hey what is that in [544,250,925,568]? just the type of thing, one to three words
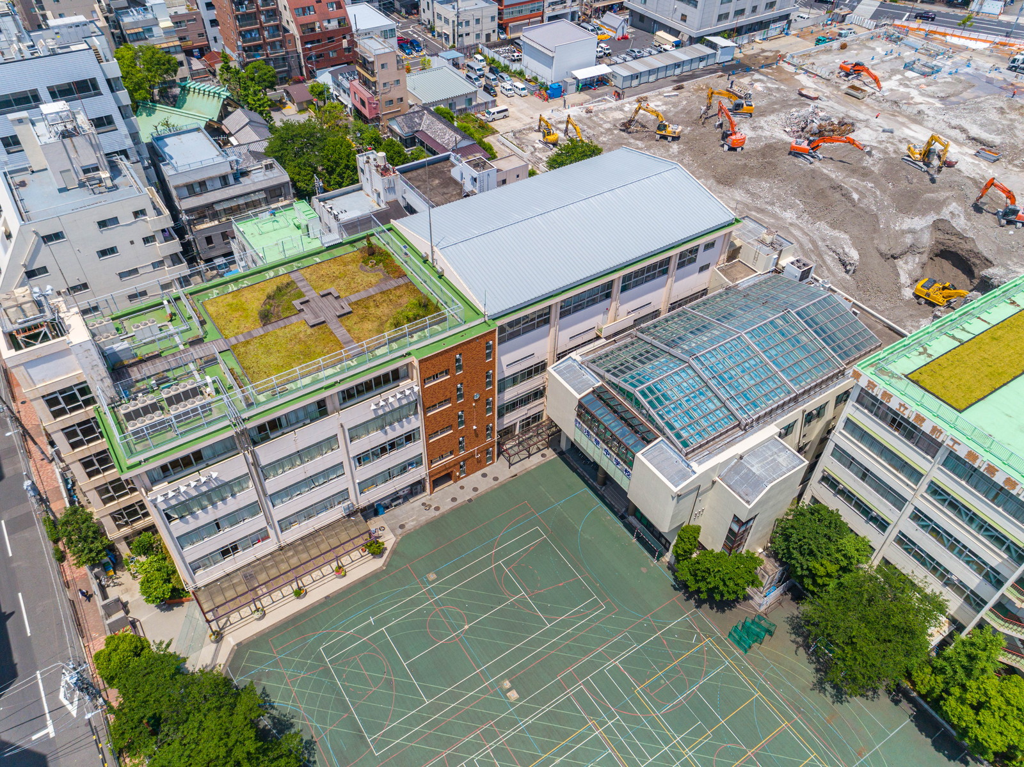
building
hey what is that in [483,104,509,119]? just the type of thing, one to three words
vehicle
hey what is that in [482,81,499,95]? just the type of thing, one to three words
vehicle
